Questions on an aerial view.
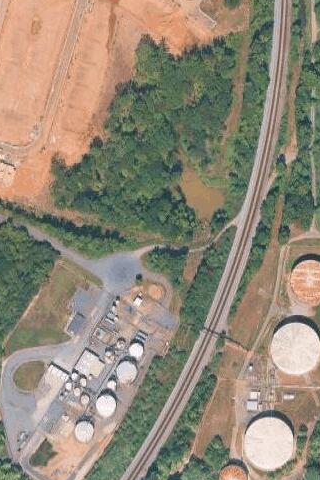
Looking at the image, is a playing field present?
No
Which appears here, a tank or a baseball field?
tank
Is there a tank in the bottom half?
Yes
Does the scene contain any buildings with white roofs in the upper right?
No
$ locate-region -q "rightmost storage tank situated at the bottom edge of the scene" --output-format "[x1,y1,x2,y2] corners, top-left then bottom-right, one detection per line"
[243,418,296,470]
